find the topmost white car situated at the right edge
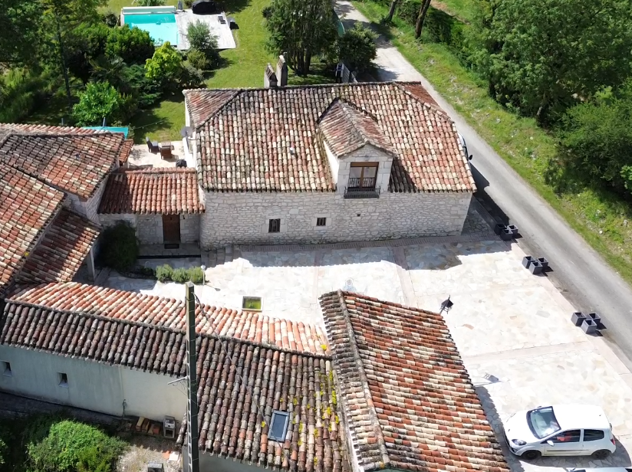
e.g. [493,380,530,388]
[502,399,622,460]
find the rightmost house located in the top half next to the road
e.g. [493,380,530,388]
[181,51,474,243]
